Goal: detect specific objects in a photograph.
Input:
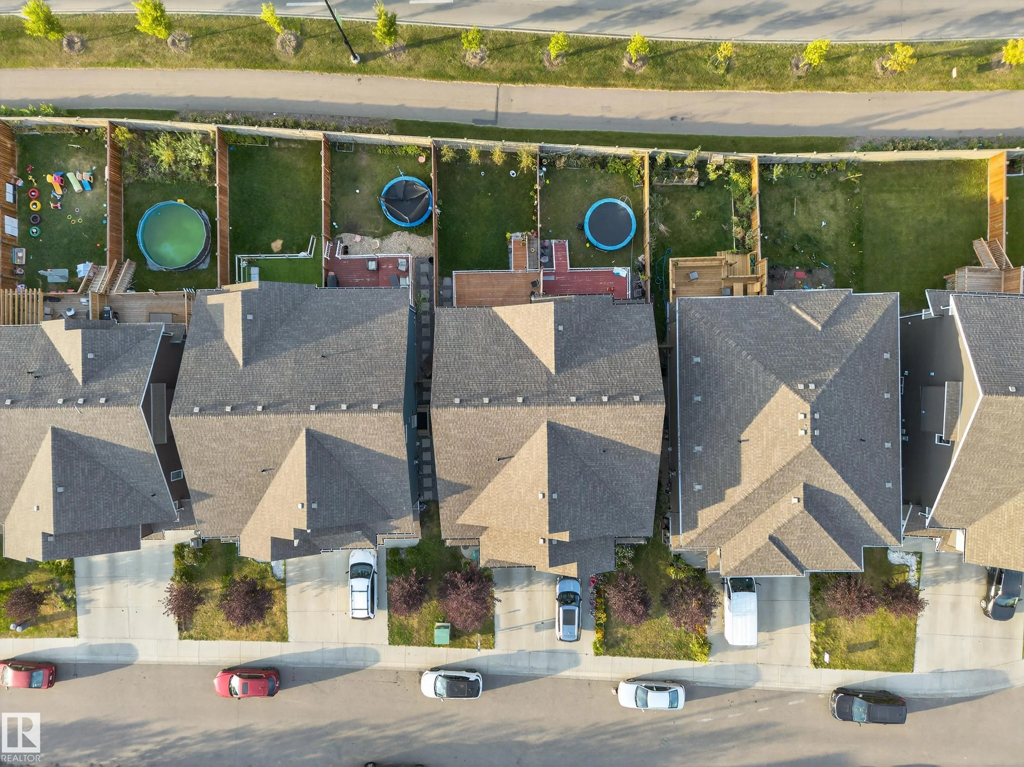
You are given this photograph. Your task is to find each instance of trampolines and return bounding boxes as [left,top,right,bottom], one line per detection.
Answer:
[377,172,433,229]
[584,196,636,252]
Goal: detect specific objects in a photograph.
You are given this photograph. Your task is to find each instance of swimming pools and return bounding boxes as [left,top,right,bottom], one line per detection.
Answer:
[136,199,215,273]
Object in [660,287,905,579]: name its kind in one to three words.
house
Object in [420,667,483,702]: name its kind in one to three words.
car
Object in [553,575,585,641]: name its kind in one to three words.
car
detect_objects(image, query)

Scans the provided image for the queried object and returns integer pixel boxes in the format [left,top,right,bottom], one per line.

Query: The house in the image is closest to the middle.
[430,291,665,577]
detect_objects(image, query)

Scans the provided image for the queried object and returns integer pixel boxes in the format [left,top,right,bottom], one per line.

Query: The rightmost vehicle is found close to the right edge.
[978,566,1020,621]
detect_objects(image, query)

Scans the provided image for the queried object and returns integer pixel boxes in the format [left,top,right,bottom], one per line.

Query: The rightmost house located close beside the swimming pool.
[169,282,425,561]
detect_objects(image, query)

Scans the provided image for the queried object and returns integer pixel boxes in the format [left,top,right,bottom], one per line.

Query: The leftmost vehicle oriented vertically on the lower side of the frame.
[346,549,379,617]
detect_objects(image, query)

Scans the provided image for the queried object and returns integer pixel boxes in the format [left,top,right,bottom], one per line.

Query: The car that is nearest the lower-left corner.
[0,660,63,694]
